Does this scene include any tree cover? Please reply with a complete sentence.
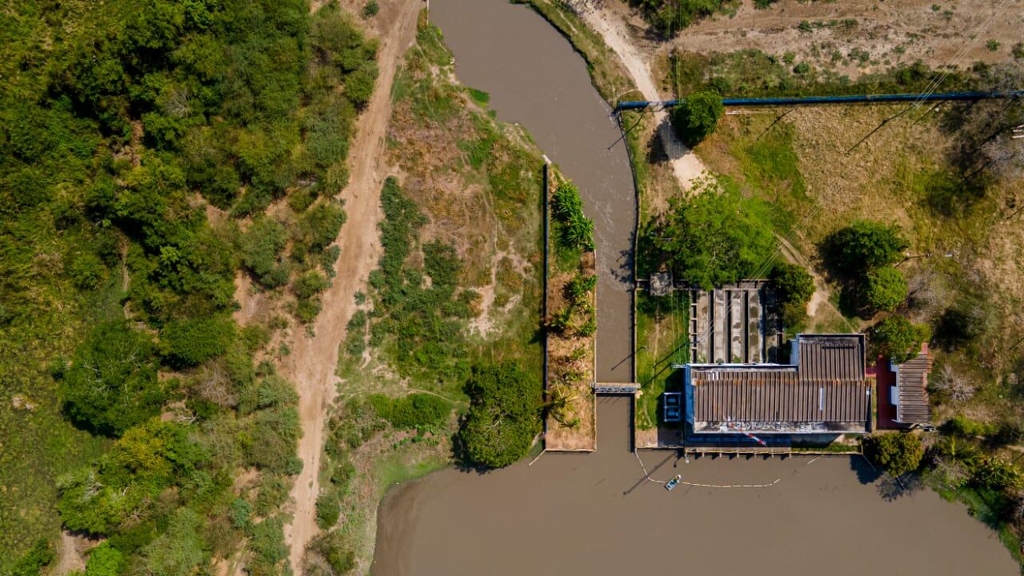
Yes, there is tree cover in the image.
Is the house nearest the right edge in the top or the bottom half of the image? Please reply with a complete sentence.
The house nearest the right edge sits in the bottom half of the picture.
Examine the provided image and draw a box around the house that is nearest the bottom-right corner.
[877,341,932,427]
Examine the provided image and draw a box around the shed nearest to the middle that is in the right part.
[648,273,673,295]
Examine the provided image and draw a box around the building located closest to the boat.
[686,332,871,433]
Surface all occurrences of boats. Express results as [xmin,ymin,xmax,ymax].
[664,475,680,491]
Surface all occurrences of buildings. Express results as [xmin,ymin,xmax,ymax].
[877,341,932,427]
[686,332,871,433]
[648,273,673,295]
